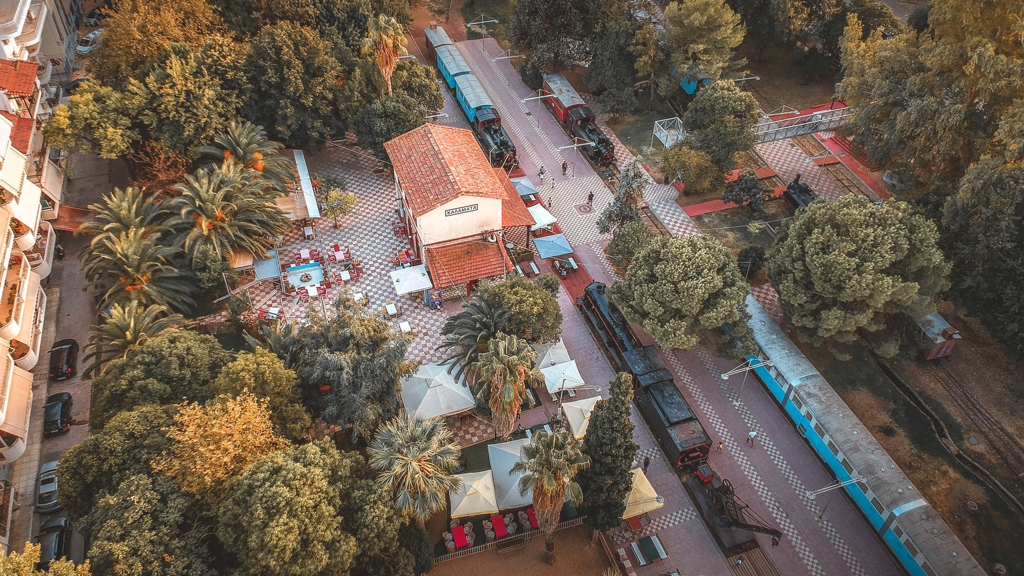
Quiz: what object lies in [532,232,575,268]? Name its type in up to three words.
umbrella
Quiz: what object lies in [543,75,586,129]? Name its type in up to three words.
rail car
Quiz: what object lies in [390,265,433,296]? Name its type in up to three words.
umbrella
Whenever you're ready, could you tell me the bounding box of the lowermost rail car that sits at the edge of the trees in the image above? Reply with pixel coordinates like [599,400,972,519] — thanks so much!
[575,277,667,391]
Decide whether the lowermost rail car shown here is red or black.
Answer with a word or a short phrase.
black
